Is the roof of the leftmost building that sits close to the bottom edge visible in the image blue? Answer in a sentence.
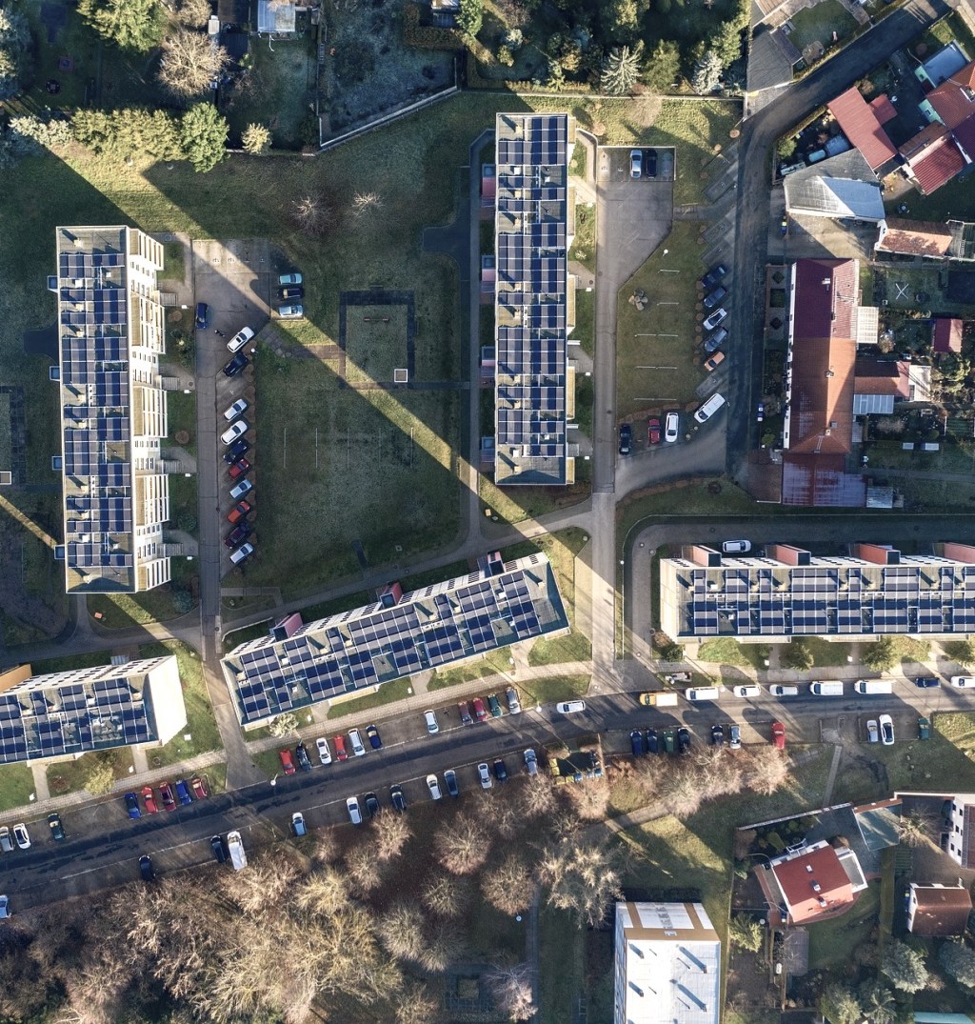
No, the roof of the leftmost building that sits close to the bottom edge is actually white.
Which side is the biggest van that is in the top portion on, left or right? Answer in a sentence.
You can find the biggest van that is in the top portion on the right side of the picture.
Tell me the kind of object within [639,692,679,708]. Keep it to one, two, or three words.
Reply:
vehicle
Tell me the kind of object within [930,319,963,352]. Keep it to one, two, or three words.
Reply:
house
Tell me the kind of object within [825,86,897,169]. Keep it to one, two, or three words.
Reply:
barn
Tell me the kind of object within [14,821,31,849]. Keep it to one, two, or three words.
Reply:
car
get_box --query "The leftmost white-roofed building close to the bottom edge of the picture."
[616,903,721,1024]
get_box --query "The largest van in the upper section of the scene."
[691,391,728,426]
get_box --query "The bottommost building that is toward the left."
[0,655,184,772]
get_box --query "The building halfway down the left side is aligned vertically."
[46,224,186,593]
